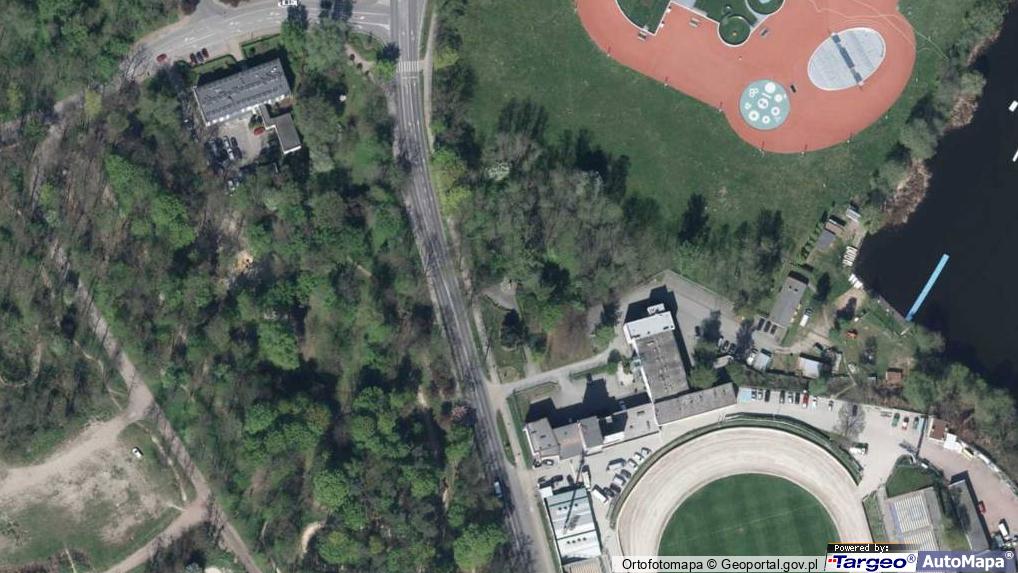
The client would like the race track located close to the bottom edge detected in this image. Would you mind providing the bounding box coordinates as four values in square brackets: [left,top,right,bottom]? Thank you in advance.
[617,426,883,573]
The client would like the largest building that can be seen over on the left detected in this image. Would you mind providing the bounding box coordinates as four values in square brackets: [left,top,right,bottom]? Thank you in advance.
[195,58,290,124]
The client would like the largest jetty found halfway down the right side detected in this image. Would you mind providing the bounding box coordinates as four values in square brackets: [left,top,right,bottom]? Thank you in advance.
[907,254,945,319]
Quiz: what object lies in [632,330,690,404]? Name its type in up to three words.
building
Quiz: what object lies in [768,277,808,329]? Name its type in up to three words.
building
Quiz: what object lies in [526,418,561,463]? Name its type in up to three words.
house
